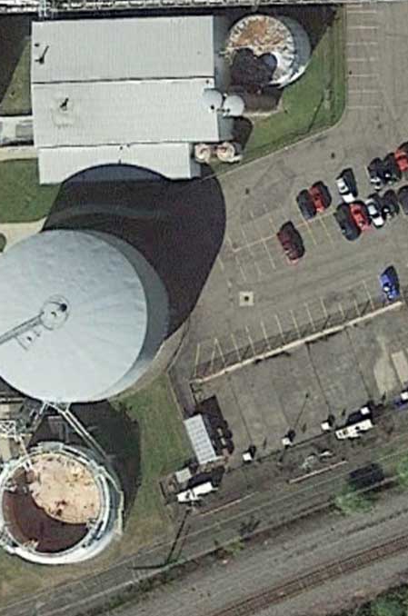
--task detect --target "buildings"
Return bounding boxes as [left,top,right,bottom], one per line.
[184,415,223,467]
[33,14,230,148]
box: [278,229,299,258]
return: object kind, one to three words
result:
car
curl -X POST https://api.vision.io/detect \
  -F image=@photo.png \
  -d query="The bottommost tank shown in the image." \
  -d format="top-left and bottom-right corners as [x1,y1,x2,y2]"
[0,441,124,564]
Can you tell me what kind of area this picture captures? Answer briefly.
industrial area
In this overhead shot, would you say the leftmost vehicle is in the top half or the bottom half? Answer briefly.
bottom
